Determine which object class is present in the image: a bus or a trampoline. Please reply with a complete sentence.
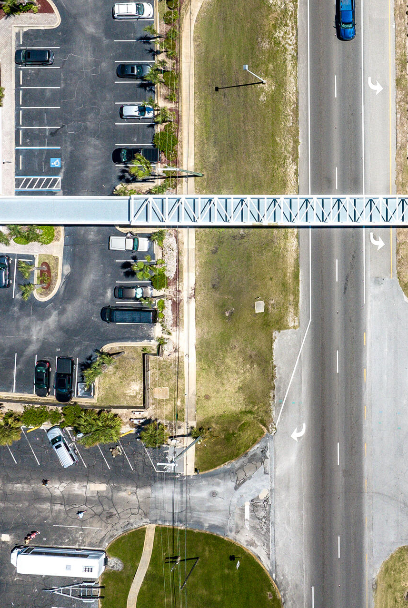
It is a bus that can be seen here.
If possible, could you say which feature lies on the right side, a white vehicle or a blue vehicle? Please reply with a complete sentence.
Visible on the right side is a blue vehicle.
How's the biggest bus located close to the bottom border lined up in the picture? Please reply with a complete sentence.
In this picture, the biggest bus located close to the bottom border lies from side to side.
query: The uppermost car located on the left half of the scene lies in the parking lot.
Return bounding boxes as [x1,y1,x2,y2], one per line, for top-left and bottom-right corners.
[114,1,153,20]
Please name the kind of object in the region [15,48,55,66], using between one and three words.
car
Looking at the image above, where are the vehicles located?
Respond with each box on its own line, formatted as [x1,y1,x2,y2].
[53,357,74,402]
[48,424,79,468]
[337,0,357,41]
[0,256,13,288]
[114,1,153,20]
[117,63,155,79]
[113,146,160,165]
[15,48,55,66]
[34,360,52,396]
[115,284,155,299]
[121,102,155,120]
[105,305,159,324]
[14,544,107,578]
[109,233,151,252]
